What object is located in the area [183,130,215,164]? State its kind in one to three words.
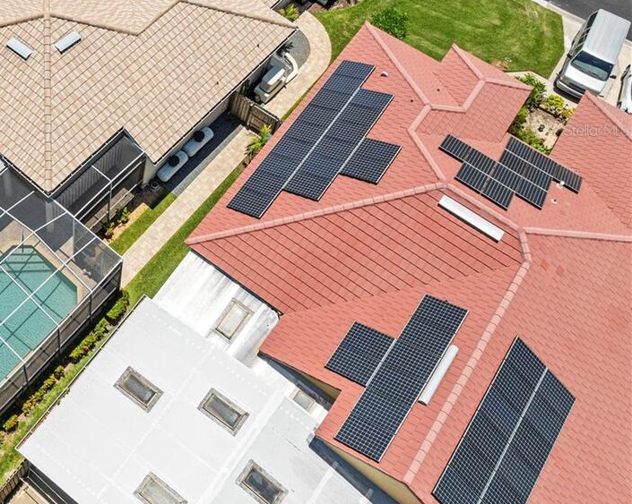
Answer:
storage tank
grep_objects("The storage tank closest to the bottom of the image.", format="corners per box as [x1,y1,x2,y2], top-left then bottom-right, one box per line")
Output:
[159,155,193,188]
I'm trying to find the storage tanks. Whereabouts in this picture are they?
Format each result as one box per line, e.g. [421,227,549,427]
[183,130,215,164]
[159,155,193,188]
